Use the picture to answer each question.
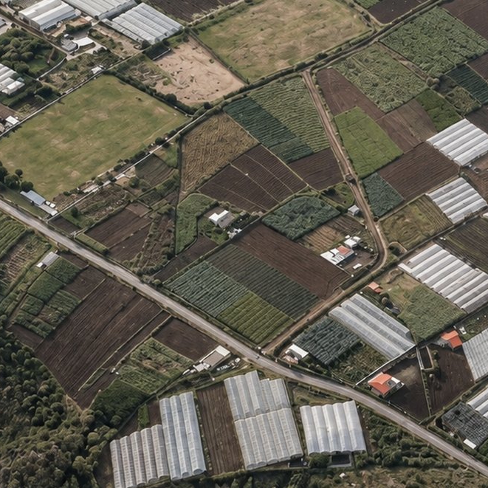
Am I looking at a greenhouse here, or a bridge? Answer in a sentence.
Looking from above, you can make out a greenhouse.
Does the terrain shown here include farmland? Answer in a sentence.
Yes, farmland shows up in the scene.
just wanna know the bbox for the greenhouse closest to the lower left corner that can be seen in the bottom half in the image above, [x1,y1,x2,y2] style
[111,427,168,488]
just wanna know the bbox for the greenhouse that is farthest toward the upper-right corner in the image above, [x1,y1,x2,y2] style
[428,119,488,168]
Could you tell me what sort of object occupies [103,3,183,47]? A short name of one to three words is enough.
greenhouse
